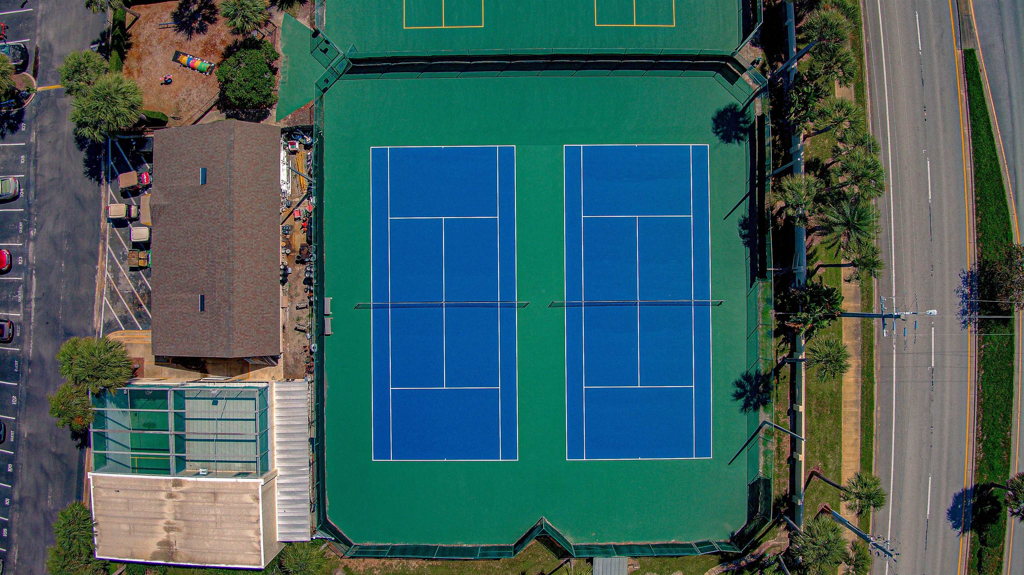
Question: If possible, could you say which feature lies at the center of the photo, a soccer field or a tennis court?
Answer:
tennis court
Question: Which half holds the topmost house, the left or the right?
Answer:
left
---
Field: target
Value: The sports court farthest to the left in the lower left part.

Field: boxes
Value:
[91,378,282,478]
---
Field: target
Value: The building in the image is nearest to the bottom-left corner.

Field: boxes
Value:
[85,461,279,569]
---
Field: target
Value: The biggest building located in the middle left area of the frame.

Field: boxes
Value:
[149,120,283,358]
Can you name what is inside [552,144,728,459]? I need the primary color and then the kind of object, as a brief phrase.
blue tennis court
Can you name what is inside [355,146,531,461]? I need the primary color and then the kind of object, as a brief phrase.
blue tennis court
